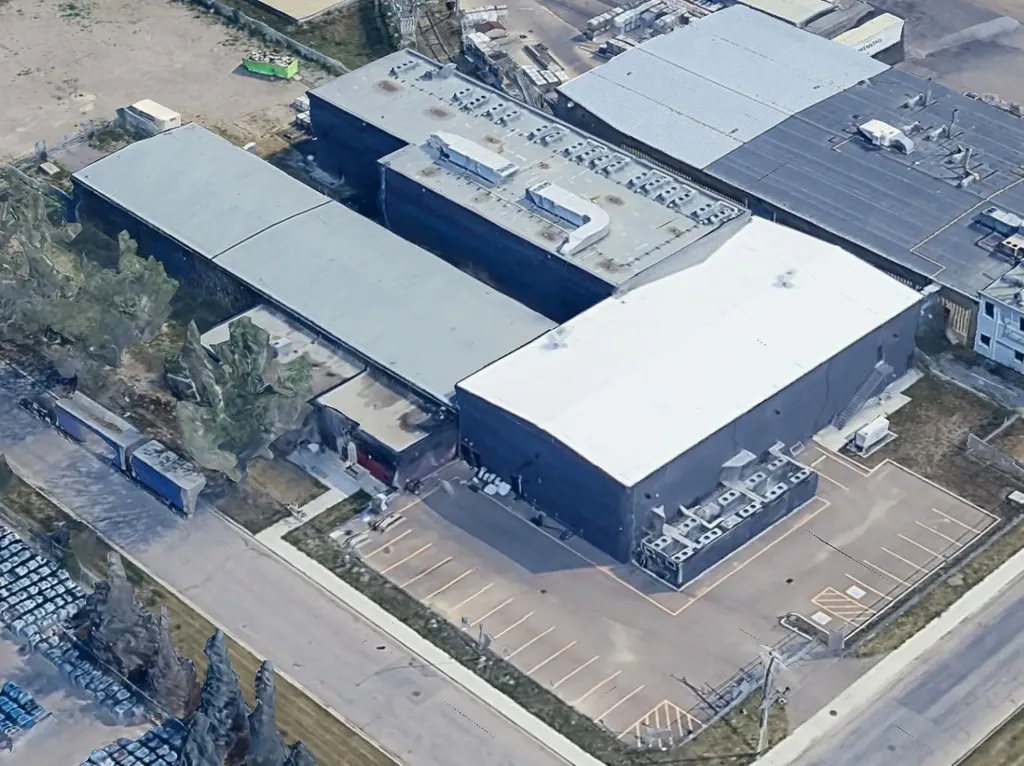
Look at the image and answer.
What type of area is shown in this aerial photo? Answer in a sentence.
This image shows an industrial area.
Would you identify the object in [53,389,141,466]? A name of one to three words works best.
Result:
trailer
